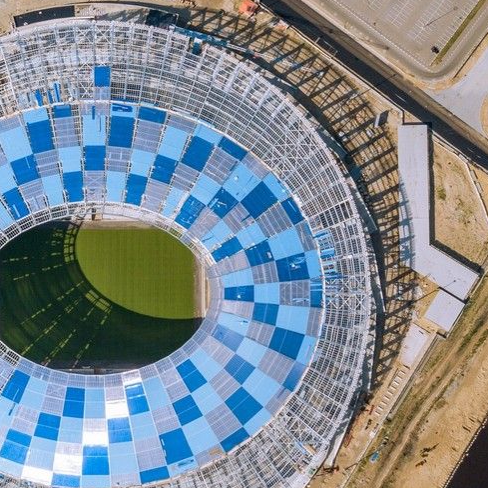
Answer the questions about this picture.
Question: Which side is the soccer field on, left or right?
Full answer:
The soccer field sits on the left side.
